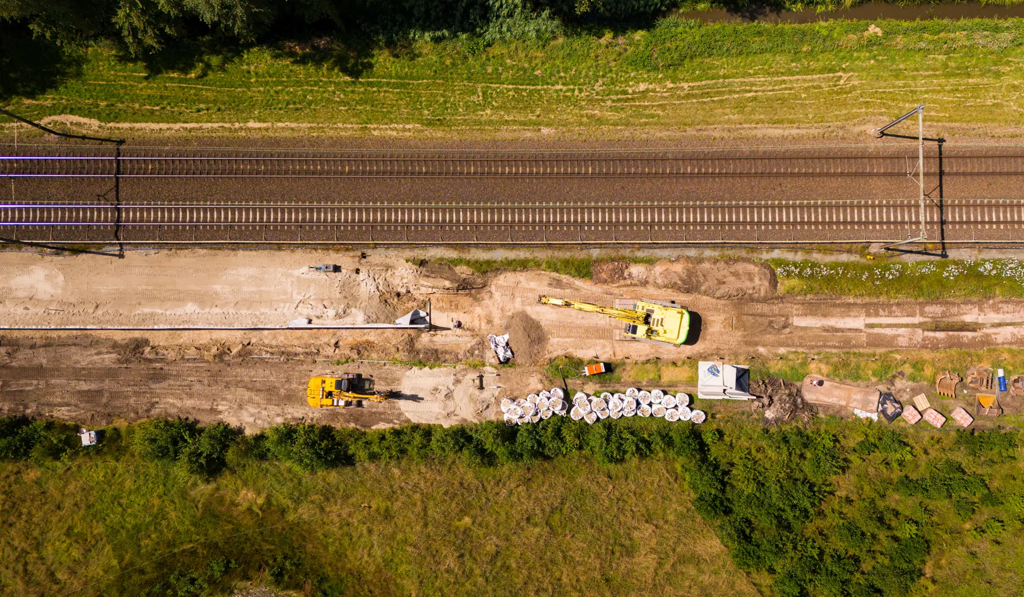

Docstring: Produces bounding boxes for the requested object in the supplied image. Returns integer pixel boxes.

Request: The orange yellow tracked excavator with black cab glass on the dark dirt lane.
[306,375,395,409]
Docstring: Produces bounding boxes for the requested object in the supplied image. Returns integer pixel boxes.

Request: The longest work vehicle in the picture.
[535,294,693,349]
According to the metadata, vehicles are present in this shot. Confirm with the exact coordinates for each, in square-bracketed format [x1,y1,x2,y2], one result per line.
[306,375,395,409]
[535,294,693,349]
